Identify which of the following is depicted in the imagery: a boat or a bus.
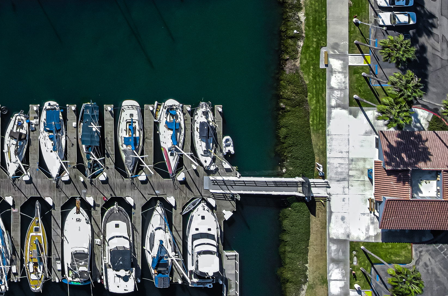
boat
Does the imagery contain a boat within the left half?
Yes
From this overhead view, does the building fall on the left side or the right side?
right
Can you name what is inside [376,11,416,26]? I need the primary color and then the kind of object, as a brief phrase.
white car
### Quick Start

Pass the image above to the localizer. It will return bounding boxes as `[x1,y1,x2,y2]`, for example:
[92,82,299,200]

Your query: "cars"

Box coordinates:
[376,11,416,26]
[375,0,413,8]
